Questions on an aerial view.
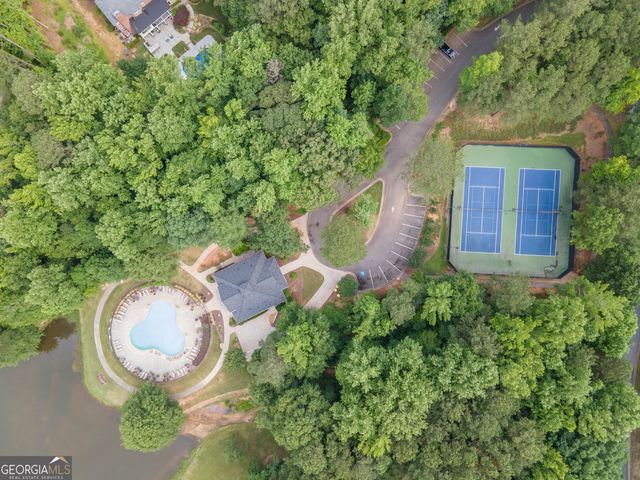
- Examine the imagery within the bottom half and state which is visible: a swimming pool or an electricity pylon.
swimming pool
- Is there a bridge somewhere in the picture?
No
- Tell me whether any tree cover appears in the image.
Yes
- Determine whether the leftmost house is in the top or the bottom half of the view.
top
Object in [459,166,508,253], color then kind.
blue tennis court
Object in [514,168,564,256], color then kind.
blue tennis court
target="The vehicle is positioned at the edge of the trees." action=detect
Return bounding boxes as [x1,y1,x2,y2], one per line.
[441,42,456,58]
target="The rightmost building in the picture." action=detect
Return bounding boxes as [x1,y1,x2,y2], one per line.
[214,251,288,324]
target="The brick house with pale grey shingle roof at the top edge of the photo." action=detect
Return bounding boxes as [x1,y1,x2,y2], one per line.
[95,0,171,36]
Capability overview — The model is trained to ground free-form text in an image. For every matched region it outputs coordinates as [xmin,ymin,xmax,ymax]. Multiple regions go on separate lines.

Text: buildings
[214,251,288,324]
[95,0,171,36]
